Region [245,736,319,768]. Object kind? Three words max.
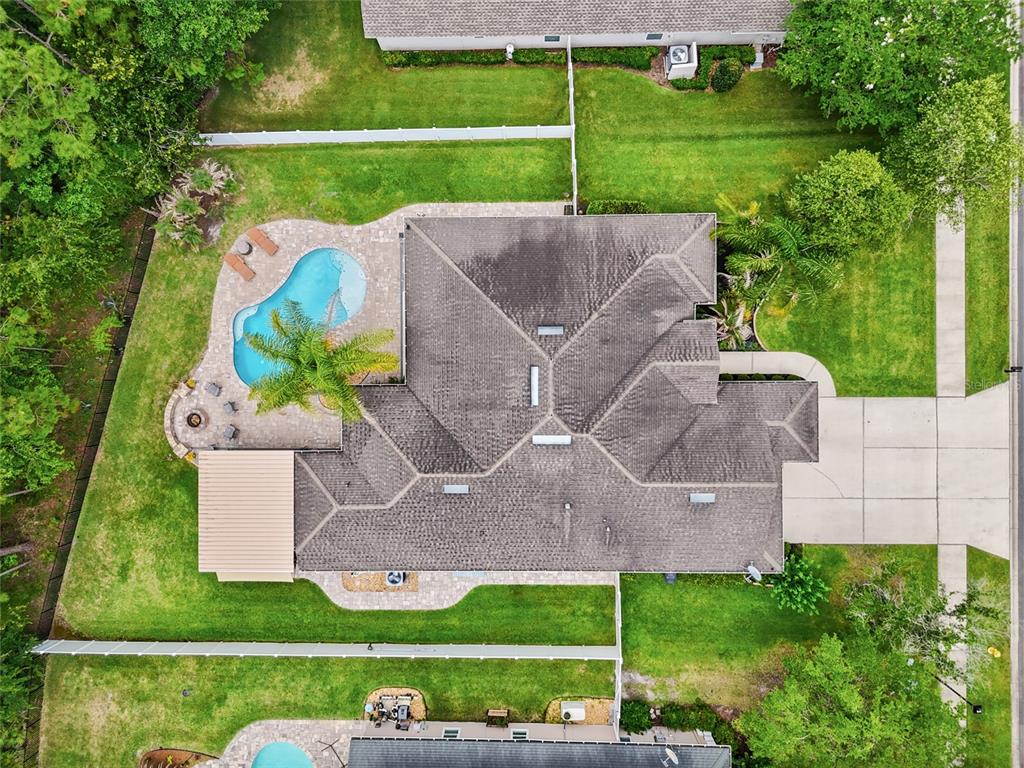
swimming pool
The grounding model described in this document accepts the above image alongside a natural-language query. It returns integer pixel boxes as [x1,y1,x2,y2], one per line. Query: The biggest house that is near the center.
[296,212,820,574]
